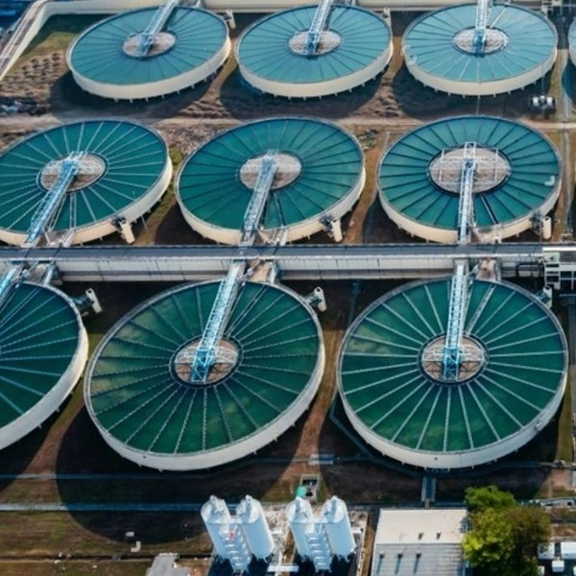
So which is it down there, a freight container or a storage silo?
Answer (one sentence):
The image shows a storage silo.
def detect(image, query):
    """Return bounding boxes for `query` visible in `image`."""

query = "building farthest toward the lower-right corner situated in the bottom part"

[371,509,466,576]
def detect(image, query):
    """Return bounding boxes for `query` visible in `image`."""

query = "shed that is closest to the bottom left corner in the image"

[145,554,191,576]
